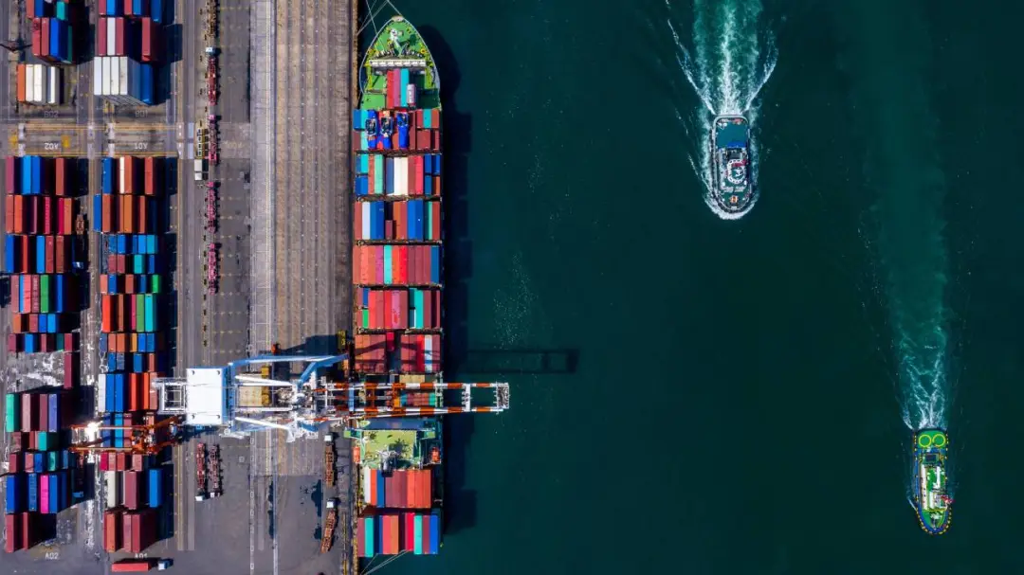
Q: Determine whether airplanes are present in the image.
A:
No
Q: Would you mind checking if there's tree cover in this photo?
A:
No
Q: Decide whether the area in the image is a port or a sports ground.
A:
port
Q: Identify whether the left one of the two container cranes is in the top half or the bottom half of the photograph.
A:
bottom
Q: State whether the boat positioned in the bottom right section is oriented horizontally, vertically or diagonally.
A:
vertically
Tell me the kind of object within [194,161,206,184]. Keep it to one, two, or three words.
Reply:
vehicle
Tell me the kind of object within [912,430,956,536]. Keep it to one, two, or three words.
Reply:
boat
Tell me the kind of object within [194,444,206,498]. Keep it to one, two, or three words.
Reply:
vehicle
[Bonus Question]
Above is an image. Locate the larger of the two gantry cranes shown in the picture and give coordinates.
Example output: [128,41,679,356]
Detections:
[150,338,510,445]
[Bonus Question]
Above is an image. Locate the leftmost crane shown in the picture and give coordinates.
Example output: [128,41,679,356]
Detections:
[71,412,184,460]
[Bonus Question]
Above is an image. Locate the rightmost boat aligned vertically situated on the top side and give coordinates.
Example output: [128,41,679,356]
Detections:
[711,117,751,216]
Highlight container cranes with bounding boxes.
[71,412,184,460]
[150,338,510,445]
